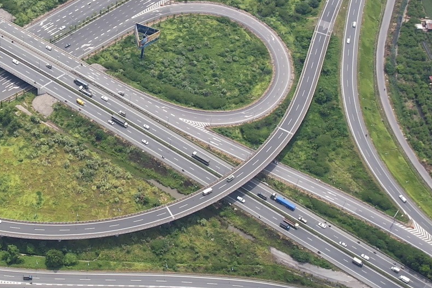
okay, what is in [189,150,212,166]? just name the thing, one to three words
vehicle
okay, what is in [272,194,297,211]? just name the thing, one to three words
vehicle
